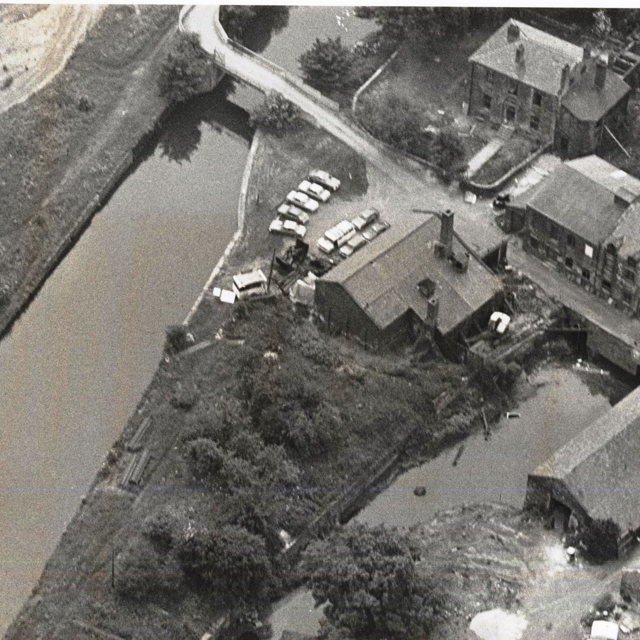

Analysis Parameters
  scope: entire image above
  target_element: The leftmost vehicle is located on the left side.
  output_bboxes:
[235,259,268,294]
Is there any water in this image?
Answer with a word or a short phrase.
Yes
